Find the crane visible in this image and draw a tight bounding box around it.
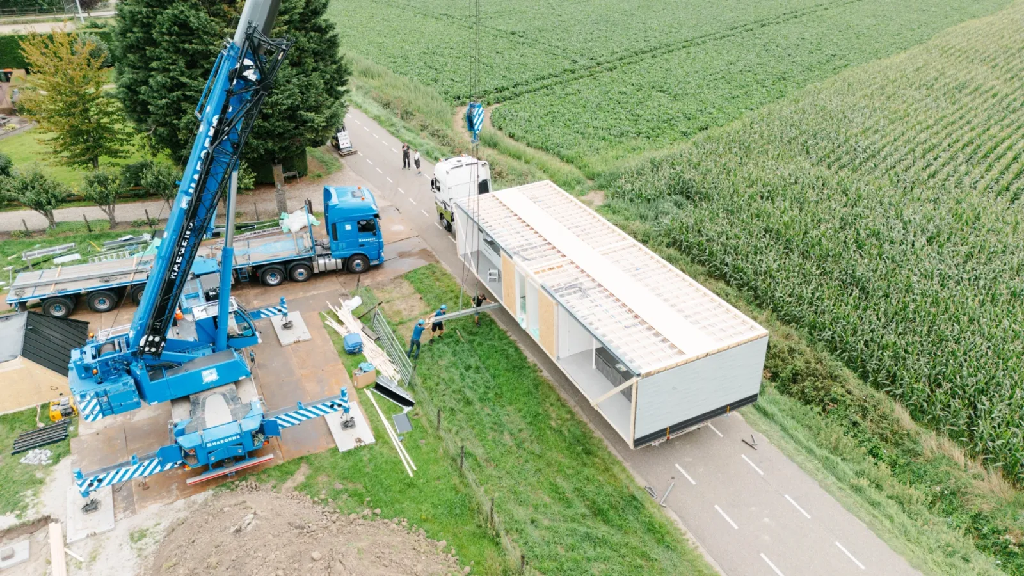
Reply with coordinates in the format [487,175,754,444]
[66,0,356,509]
